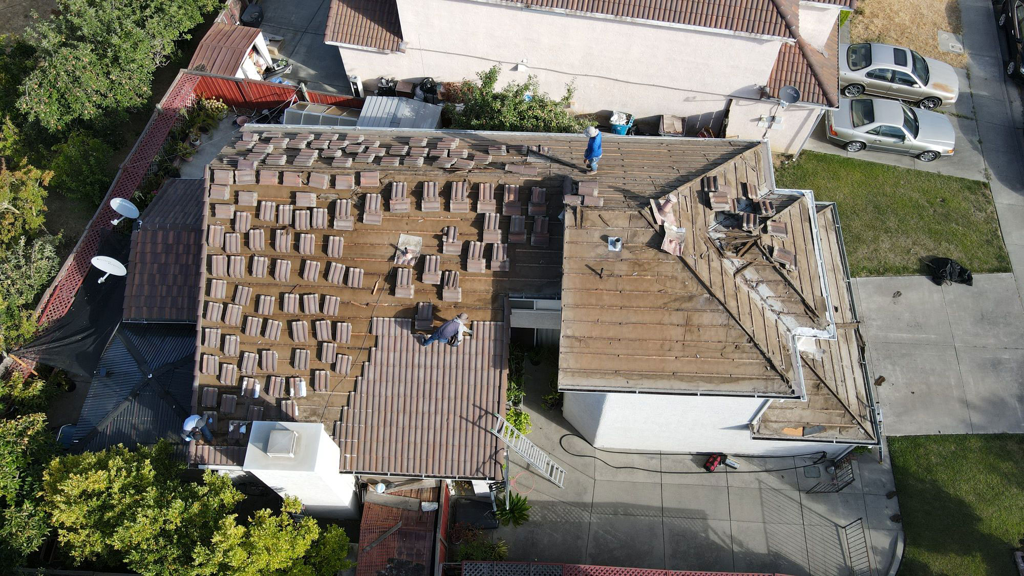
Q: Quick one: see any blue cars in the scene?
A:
No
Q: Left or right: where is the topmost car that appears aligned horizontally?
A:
right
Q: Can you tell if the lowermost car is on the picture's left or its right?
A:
right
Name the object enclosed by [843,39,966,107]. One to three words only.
car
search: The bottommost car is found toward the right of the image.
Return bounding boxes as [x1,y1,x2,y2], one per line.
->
[821,95,960,159]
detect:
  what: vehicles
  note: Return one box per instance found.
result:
[821,95,960,159]
[1000,0,1024,84]
[843,39,966,107]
